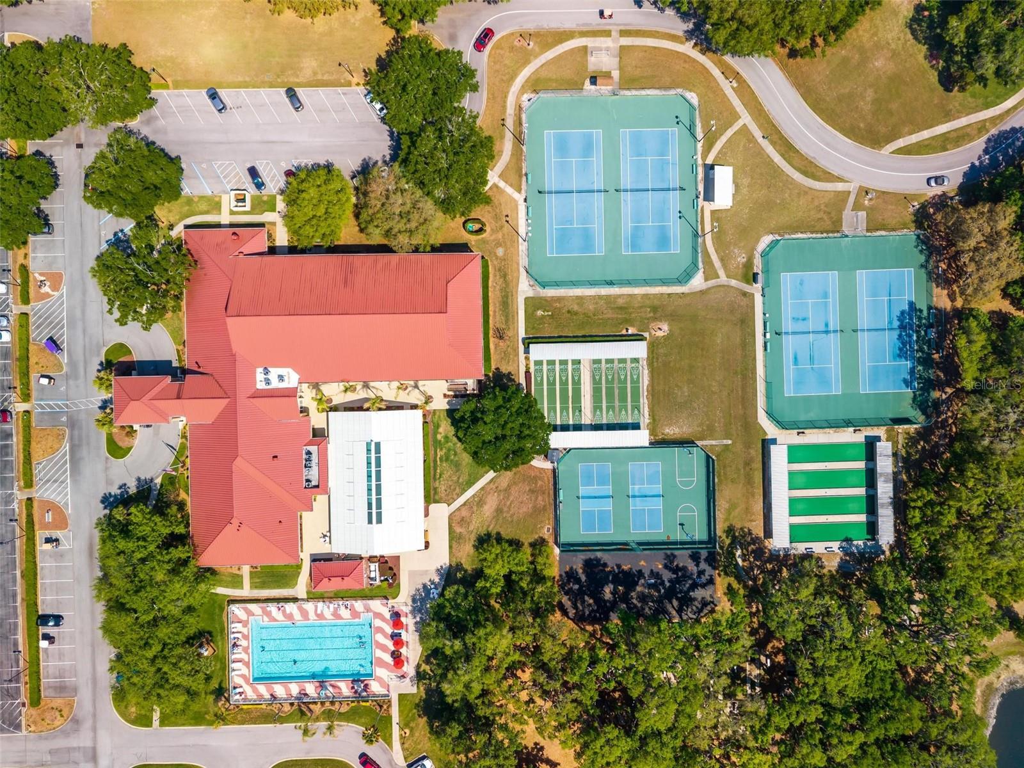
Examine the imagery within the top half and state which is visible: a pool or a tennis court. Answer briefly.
tennis court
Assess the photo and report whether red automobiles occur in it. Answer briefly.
Yes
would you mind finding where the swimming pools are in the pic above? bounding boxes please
[231,600,408,703]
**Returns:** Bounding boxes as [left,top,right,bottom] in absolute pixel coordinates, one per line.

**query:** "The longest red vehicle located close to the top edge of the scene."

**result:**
[475,28,494,54]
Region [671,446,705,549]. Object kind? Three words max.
basketball court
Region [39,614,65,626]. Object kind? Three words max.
vehicle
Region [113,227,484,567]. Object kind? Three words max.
building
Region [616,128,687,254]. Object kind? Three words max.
tennis court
